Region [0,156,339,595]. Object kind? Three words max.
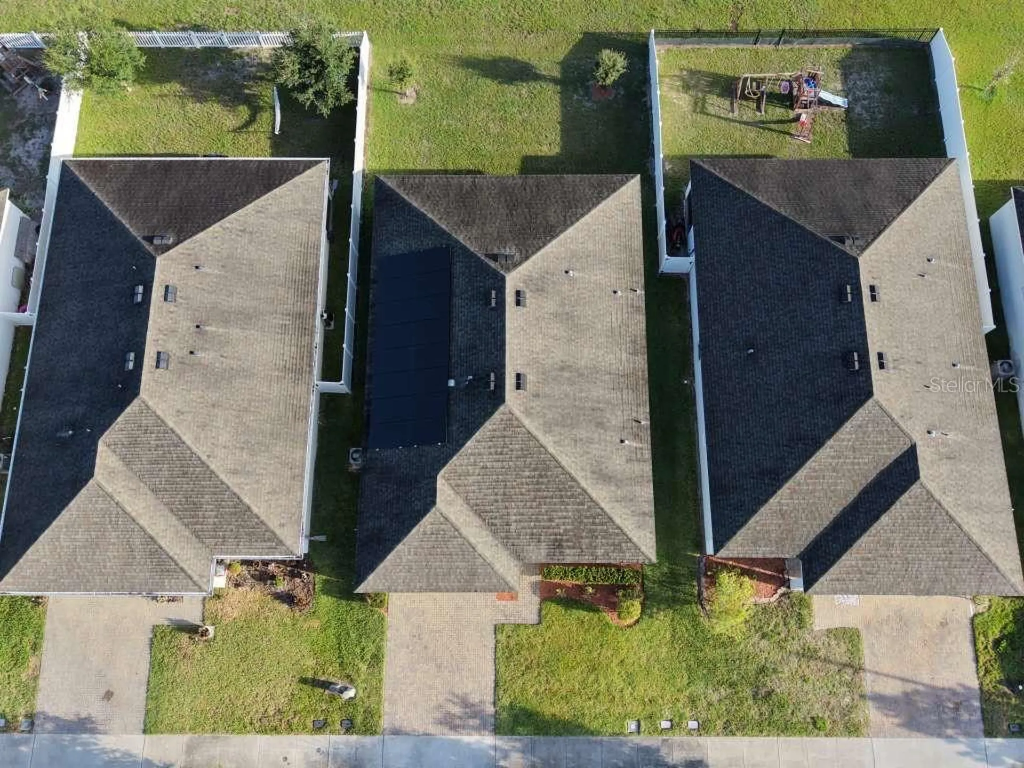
house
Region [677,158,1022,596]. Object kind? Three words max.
house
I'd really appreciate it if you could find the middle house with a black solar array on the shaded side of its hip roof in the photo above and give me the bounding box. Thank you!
[353,174,657,595]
